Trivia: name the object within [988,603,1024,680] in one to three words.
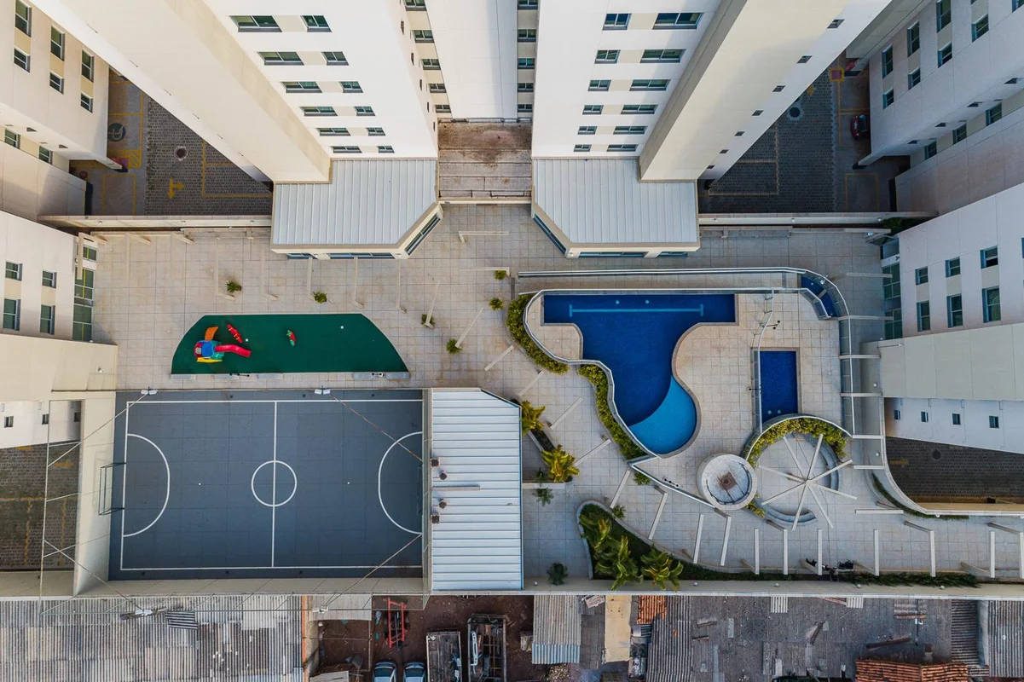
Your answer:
shed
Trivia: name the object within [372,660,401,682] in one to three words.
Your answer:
car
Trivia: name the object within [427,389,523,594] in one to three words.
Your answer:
building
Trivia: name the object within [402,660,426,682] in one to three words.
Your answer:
car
